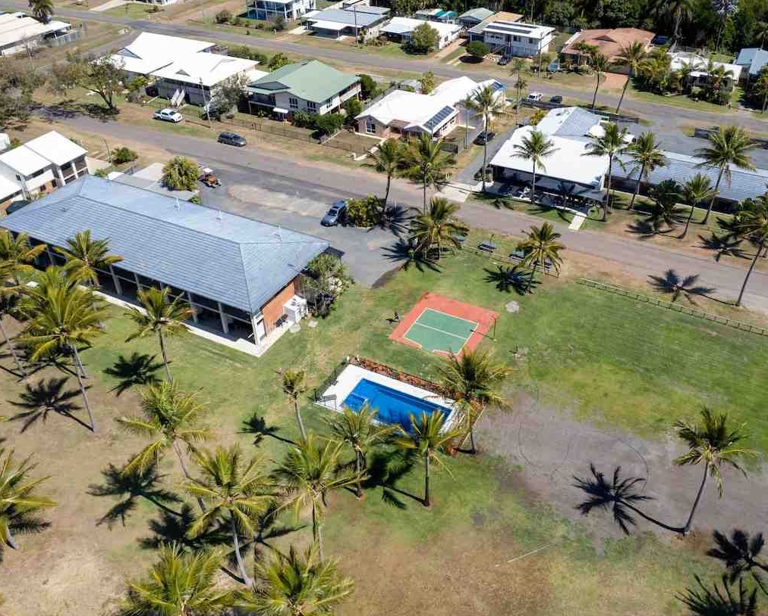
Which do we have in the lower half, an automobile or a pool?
pool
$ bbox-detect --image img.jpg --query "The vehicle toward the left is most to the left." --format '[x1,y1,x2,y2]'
[153,107,182,122]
